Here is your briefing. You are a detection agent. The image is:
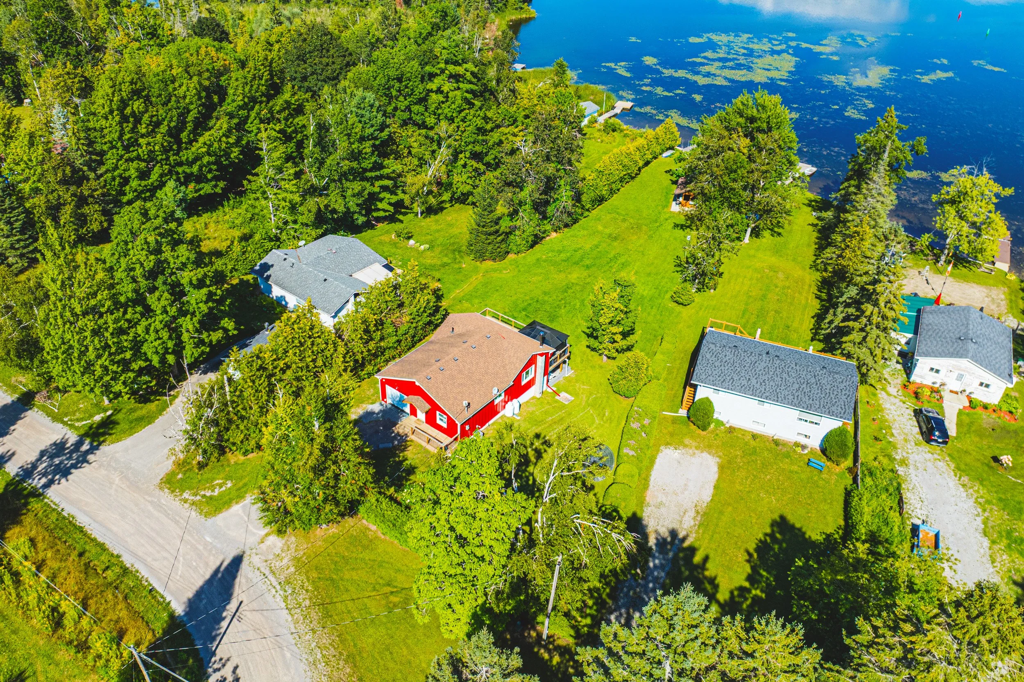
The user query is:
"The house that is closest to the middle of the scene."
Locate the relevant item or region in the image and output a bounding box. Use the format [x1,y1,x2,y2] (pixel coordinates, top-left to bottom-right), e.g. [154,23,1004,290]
[374,313,579,459]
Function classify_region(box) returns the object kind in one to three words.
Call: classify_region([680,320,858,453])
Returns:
house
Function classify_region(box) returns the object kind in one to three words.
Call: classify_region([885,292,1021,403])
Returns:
house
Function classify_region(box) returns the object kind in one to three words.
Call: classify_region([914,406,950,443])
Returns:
car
